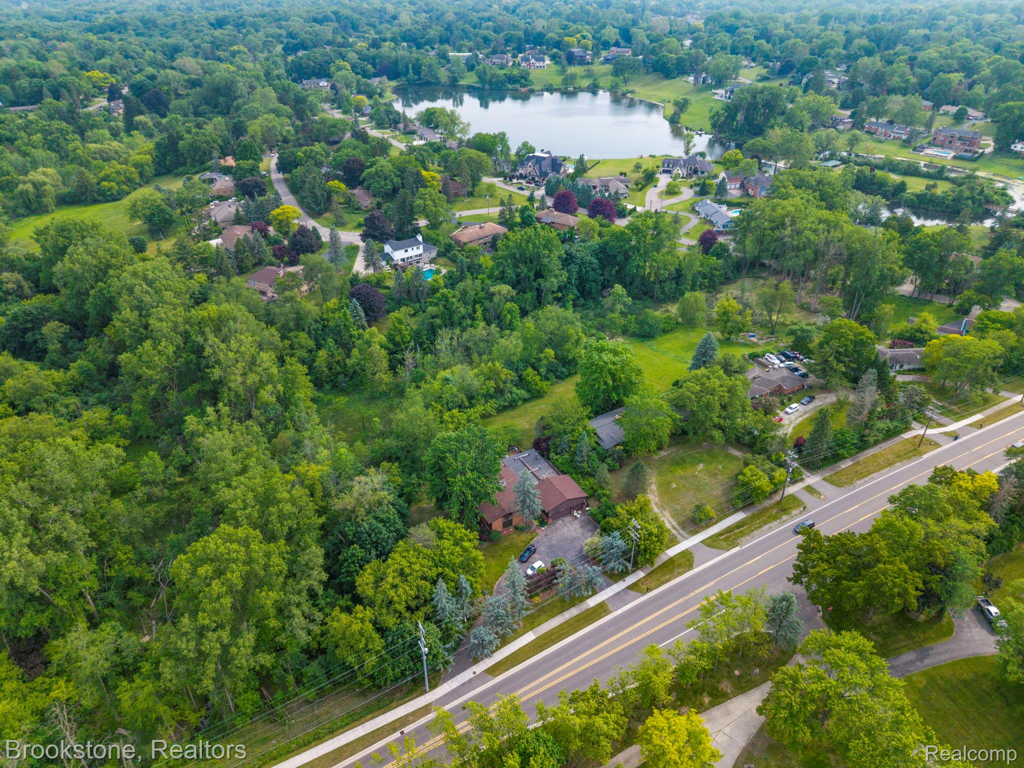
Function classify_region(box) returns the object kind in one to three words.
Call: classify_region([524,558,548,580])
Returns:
car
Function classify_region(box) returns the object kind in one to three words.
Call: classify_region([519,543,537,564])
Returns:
car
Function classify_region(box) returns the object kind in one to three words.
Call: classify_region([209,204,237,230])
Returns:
house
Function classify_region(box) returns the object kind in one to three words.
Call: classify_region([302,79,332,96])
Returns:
house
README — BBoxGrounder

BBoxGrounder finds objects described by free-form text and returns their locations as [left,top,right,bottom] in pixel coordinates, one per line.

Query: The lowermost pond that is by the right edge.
[855,201,1024,228]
